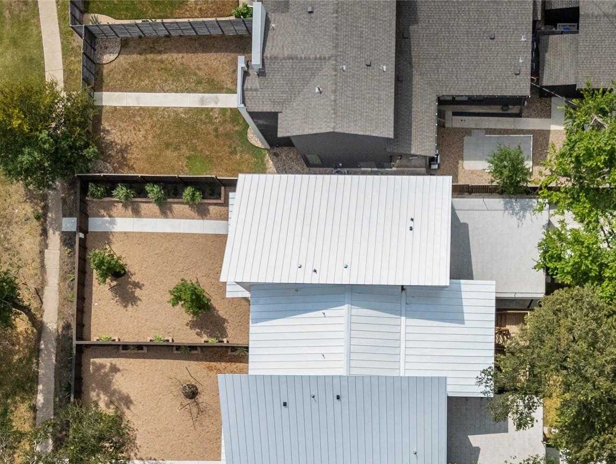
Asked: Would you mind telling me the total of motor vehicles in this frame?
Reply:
none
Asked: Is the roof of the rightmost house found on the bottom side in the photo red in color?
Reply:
No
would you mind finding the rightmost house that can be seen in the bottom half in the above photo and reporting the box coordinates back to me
[219,174,493,464]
